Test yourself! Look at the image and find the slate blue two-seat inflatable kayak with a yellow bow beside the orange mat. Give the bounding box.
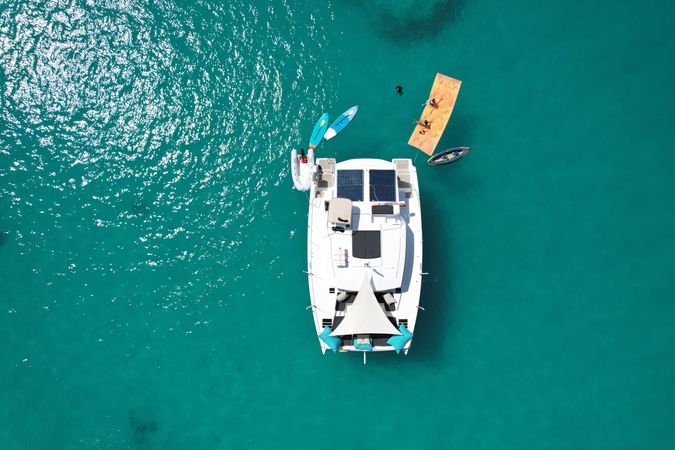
[427,147,471,165]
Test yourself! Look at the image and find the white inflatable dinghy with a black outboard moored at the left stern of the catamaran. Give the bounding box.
[291,148,314,190]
